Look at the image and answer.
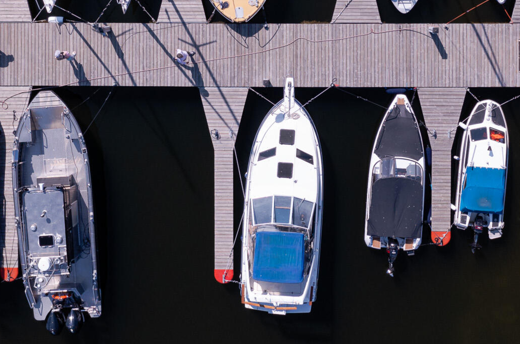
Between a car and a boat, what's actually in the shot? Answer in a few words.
boat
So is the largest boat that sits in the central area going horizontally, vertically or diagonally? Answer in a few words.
vertically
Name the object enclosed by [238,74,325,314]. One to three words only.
boat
